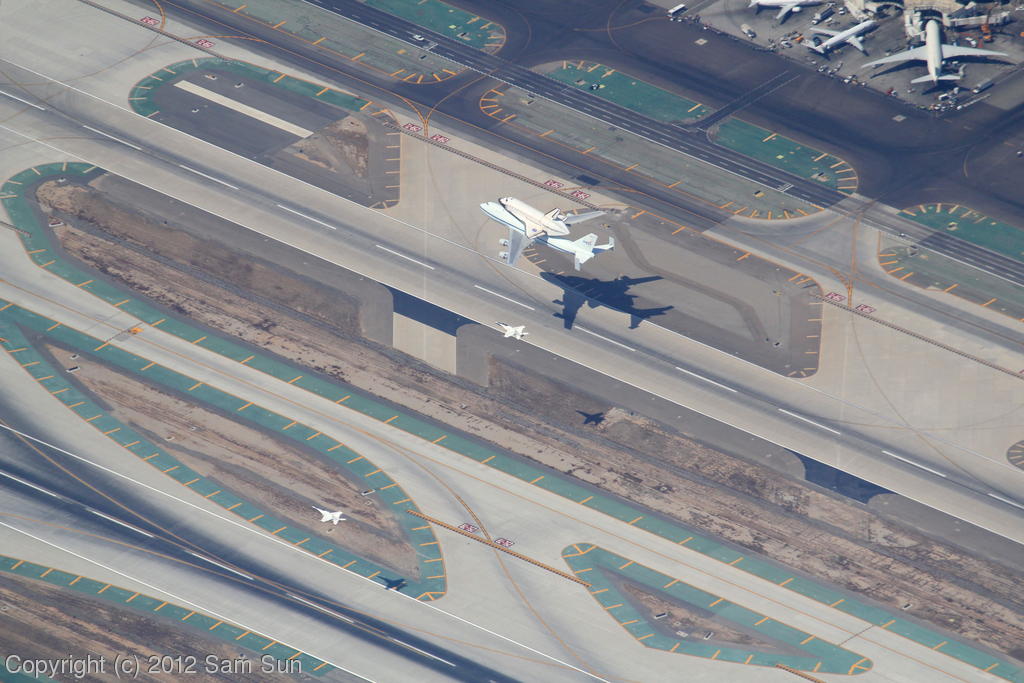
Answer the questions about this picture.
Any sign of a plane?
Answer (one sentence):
Yes, this view includes a plane.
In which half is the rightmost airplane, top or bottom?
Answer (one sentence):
It is in the top half that the rightmost airplane appears.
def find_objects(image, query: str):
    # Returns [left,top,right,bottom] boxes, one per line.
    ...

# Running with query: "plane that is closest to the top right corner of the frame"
[864,19,1006,83]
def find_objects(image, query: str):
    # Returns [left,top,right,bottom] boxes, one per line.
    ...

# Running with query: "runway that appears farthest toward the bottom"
[0,395,610,683]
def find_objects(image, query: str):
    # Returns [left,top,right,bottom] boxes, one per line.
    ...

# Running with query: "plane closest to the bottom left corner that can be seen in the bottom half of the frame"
[312,506,346,523]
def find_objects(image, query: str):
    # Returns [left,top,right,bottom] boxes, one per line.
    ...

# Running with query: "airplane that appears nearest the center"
[496,322,530,337]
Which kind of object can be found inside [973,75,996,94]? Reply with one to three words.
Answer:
vehicle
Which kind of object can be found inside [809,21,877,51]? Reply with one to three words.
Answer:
airplane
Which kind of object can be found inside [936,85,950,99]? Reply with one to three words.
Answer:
work vehicle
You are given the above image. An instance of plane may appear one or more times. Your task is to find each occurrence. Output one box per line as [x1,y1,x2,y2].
[809,21,877,51]
[479,199,617,271]
[864,19,1006,83]
[496,322,530,337]
[750,0,824,16]
[312,506,346,523]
